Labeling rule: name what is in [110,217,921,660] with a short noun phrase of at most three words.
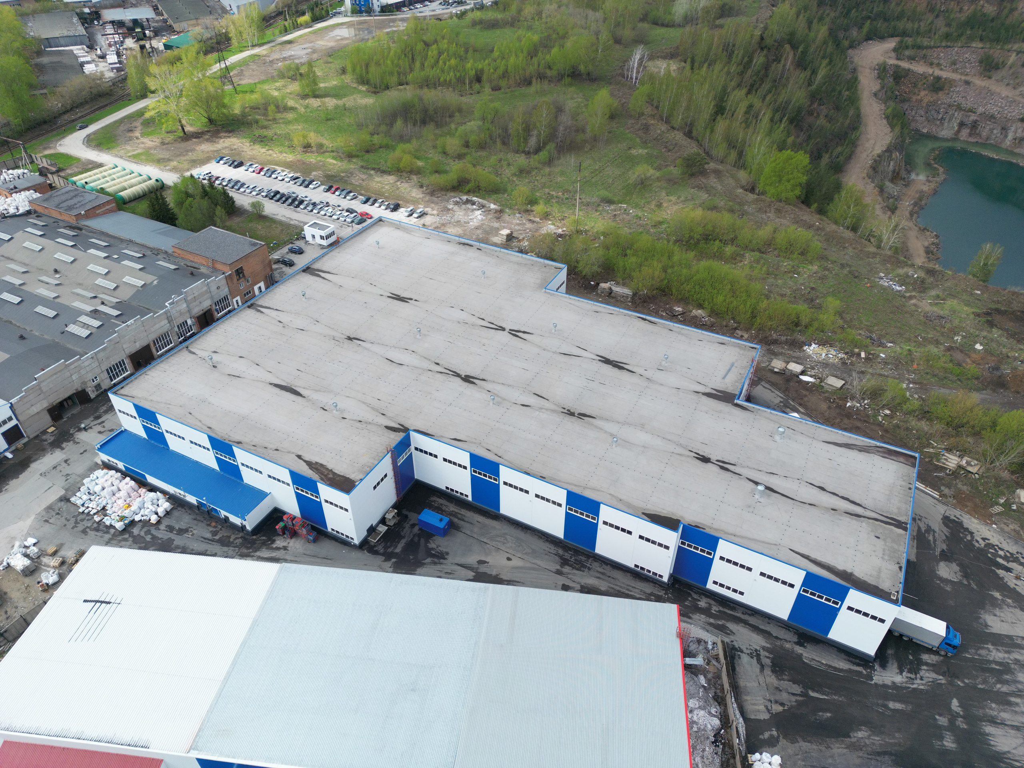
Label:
warehouse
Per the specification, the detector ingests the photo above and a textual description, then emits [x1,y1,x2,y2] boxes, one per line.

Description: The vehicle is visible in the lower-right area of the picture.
[888,606,967,659]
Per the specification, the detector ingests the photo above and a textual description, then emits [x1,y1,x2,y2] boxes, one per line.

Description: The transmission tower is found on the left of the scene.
[213,32,242,93]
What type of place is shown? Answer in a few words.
industrial area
